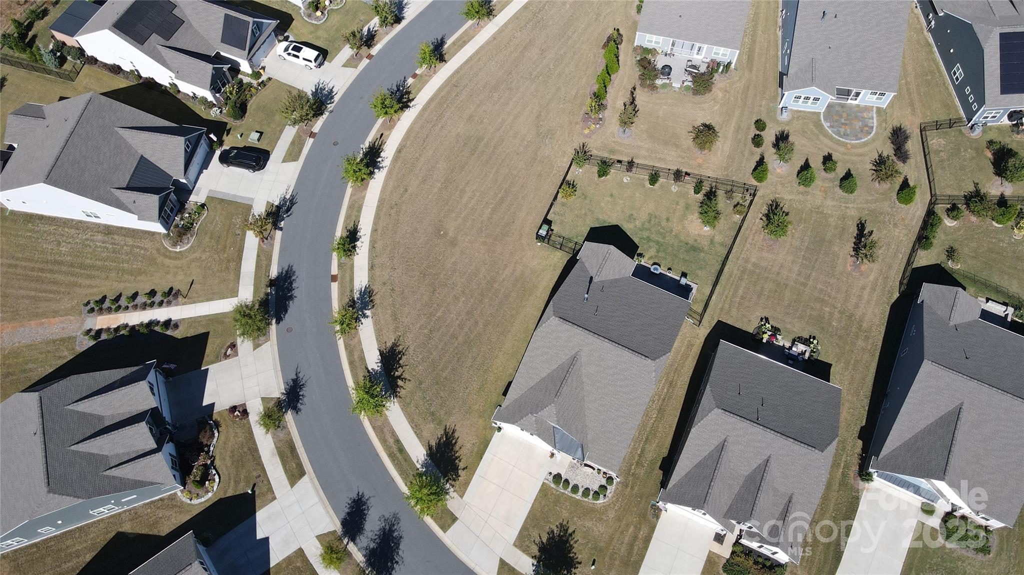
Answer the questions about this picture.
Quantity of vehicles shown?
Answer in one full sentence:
Altogether the scene contains 4 vehicles.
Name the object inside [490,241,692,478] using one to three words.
house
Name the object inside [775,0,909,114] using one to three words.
house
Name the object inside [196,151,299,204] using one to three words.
car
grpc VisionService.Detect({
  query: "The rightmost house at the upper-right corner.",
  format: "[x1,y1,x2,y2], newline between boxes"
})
[928,0,1024,122]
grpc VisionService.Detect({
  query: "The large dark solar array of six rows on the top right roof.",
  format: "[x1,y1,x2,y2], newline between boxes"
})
[999,32,1024,95]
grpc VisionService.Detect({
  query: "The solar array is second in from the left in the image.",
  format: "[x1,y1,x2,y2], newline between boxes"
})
[221,13,250,50]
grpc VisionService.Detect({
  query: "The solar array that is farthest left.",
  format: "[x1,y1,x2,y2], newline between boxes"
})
[113,0,177,44]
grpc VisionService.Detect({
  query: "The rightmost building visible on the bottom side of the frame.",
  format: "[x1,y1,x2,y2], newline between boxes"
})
[862,282,1024,538]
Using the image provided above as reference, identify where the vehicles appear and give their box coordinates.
[196,151,299,204]
[260,50,355,104]
[271,37,328,70]
[213,143,270,172]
